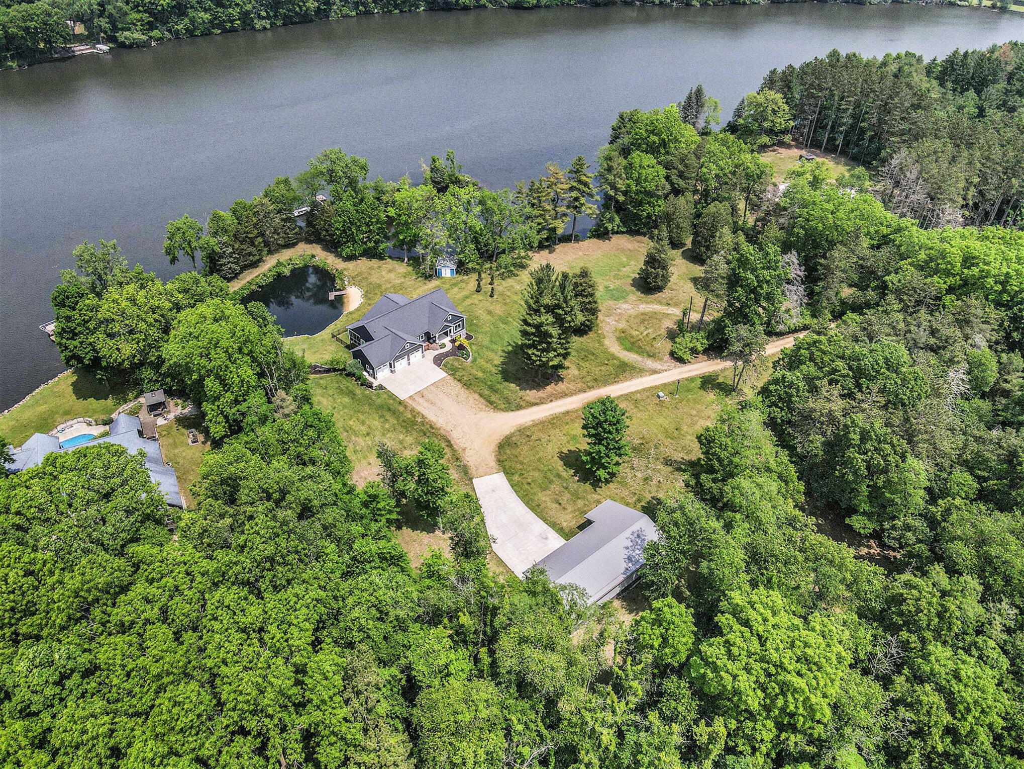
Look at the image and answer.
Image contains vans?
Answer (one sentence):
No, I can't see a single van in this photo.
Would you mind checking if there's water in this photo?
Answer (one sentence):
Yes, some water is visible.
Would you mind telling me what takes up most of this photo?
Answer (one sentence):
What you mostly see from above here is trees.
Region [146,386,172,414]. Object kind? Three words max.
building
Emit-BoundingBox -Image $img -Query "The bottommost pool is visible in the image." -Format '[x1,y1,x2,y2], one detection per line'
[60,433,96,446]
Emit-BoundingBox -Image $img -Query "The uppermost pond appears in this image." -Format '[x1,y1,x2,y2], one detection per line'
[249,267,341,337]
